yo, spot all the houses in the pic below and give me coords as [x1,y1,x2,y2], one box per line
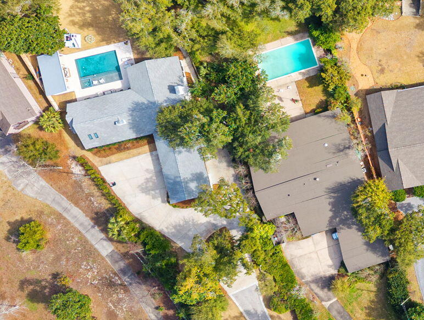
[367,85,424,190]
[248,108,391,273]
[0,53,41,136]
[66,56,213,204]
